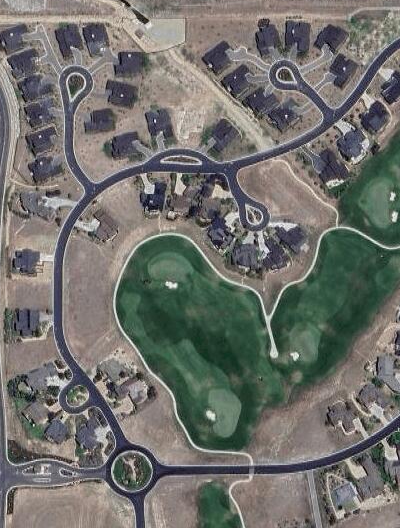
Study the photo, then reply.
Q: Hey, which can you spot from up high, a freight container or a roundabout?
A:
roundabout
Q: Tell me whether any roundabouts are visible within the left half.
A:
Yes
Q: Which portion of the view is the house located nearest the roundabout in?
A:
bottom left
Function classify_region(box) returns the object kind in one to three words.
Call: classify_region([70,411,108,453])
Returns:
house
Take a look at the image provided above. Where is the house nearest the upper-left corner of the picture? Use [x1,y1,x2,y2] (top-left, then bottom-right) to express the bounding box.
[0,22,28,51]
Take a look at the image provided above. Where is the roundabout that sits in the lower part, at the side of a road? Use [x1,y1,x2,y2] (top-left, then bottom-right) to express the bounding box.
[102,440,165,504]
